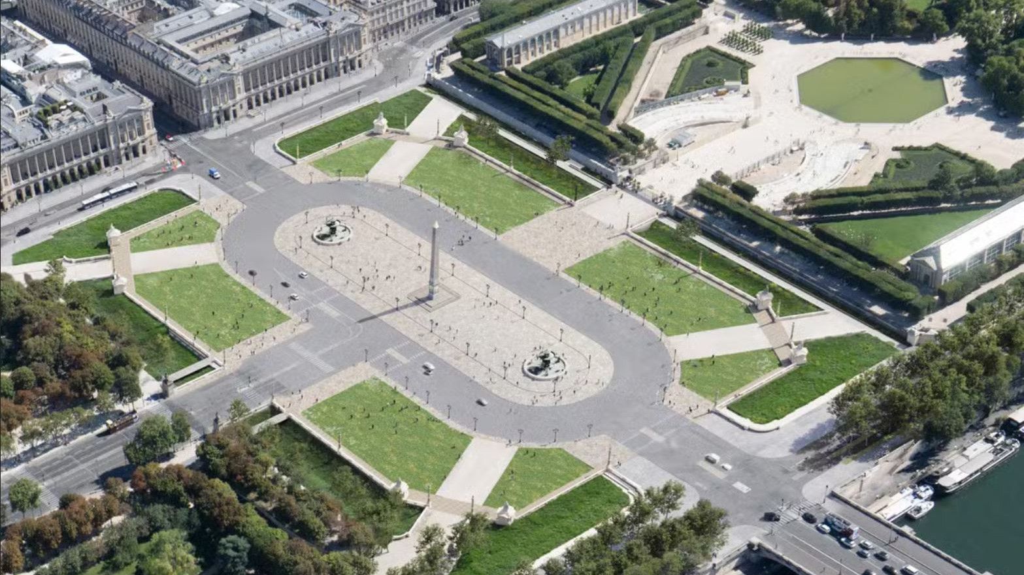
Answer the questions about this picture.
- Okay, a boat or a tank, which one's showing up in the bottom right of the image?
boat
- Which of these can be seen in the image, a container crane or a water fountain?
water fountain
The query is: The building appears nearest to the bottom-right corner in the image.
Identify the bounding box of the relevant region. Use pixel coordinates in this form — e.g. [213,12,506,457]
[791,343,808,369]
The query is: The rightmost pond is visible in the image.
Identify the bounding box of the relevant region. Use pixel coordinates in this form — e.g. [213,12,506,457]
[793,55,950,124]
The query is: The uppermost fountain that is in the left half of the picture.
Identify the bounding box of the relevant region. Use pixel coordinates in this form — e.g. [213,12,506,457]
[312,215,352,244]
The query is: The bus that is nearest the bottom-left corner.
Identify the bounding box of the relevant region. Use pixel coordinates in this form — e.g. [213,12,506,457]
[104,407,138,433]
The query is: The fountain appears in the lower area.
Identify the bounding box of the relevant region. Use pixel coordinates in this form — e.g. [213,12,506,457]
[522,347,567,380]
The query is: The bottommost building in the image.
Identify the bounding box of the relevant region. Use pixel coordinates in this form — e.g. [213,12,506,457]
[496,501,515,530]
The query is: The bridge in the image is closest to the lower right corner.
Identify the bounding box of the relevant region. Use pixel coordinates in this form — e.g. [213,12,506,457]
[746,487,977,575]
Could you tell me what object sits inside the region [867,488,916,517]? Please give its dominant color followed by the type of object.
white boat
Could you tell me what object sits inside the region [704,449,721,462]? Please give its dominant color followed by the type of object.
white vehicle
